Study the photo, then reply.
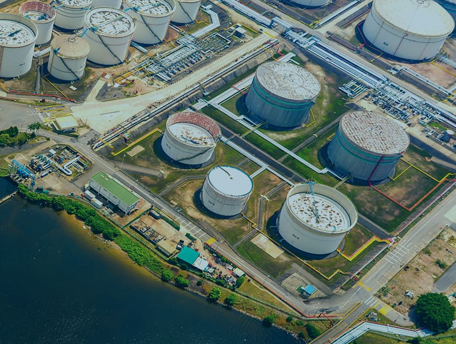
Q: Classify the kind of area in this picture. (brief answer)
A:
industrial area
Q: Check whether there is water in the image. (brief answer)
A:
Yes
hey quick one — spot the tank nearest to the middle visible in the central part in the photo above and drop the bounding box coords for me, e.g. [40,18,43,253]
[196,163,254,219]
